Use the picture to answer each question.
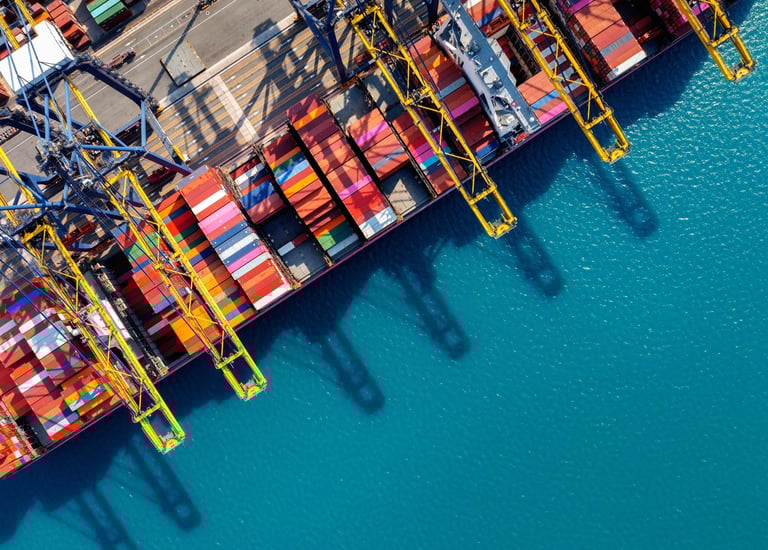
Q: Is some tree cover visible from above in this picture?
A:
No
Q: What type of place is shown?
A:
port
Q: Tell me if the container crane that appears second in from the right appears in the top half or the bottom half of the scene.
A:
top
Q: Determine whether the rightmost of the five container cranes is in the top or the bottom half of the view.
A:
top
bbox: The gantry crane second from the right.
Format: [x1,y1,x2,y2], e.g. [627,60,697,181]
[413,0,633,165]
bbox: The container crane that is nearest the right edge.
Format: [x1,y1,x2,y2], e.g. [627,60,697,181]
[669,0,757,86]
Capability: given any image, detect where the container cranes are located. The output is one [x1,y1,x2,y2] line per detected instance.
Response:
[413,0,633,165]
[669,0,757,86]
[284,0,518,239]
[0,98,188,454]
[0,0,268,401]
